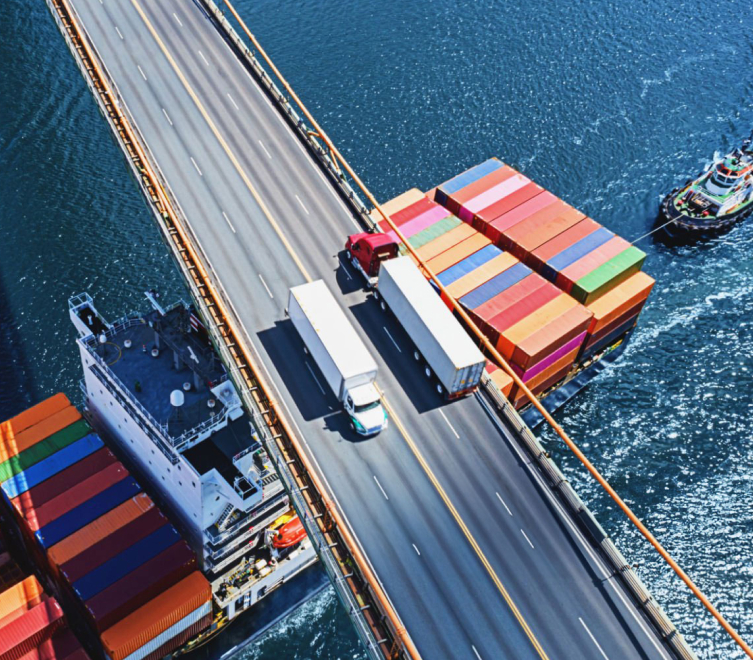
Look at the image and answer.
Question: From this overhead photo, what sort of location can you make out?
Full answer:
This looks like a port.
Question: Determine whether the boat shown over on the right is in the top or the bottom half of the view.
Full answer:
Seen from above, the boat shown over on the right lies in the top half of the view.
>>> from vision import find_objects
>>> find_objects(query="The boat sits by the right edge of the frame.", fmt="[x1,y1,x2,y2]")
[652,123,753,239]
